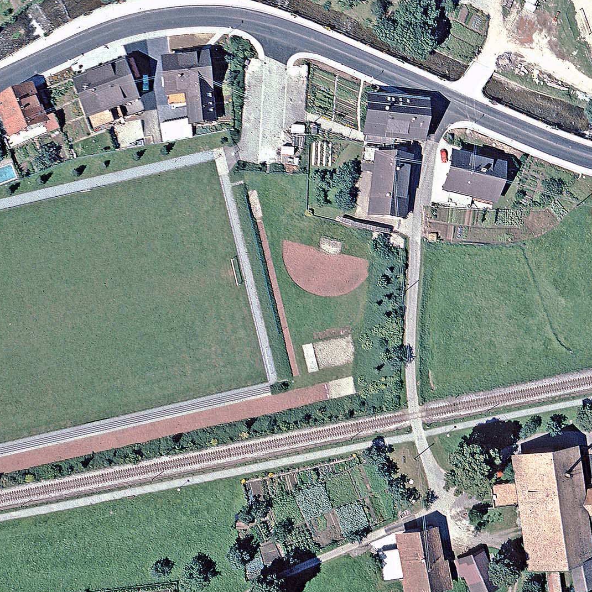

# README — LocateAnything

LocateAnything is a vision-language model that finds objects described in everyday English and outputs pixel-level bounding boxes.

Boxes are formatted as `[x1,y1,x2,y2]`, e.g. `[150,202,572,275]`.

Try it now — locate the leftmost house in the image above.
[0,81,59,136]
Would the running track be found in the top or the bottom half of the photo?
bottom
